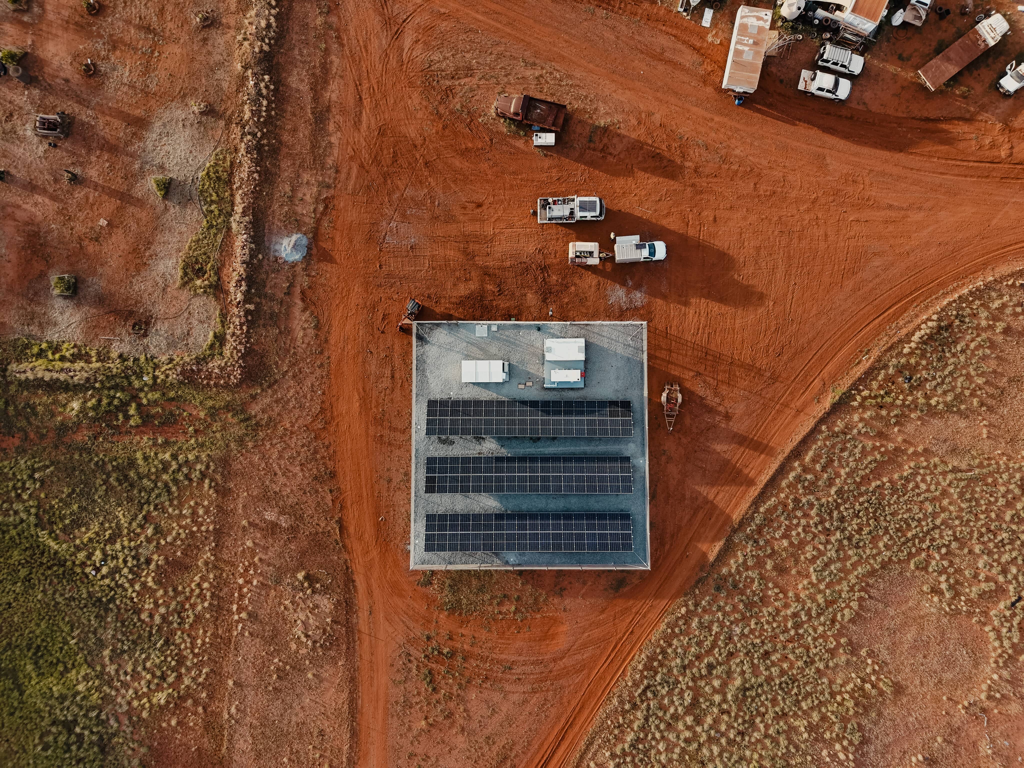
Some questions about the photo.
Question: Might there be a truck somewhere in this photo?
Yes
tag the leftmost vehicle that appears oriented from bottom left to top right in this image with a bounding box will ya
[395,296,426,336]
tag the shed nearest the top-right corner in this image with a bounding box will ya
[840,0,889,36]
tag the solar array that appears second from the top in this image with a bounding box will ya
[423,457,634,494]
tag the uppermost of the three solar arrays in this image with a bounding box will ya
[424,400,635,436]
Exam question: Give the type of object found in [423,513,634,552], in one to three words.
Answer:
solar array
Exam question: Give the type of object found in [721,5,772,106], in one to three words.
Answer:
camper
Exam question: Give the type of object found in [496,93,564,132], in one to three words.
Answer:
truck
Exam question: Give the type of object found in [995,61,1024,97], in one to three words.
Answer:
car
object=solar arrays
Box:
[423,457,634,494]
[424,400,635,436]
[423,513,634,552]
